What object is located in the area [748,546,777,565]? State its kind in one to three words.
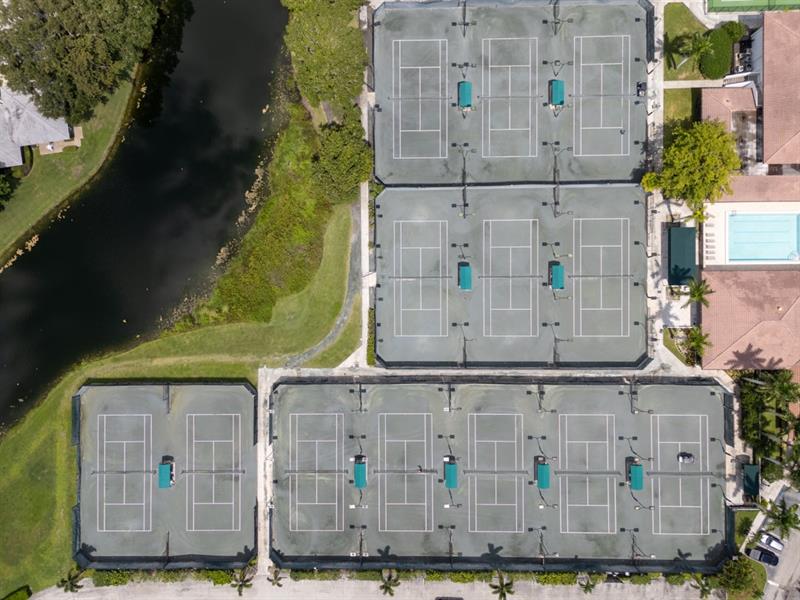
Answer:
vehicle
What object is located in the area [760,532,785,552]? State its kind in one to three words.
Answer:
car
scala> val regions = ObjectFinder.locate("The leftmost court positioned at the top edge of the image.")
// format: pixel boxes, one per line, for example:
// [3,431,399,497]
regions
[376,8,464,186]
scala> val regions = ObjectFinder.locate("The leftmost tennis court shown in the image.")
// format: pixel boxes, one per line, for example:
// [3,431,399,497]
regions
[80,386,168,562]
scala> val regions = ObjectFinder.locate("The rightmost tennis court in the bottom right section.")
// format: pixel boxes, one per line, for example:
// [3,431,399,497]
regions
[633,386,727,566]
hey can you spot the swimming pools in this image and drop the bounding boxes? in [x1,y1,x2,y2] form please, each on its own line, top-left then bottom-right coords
[726,210,800,266]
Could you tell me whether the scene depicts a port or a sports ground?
sports ground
